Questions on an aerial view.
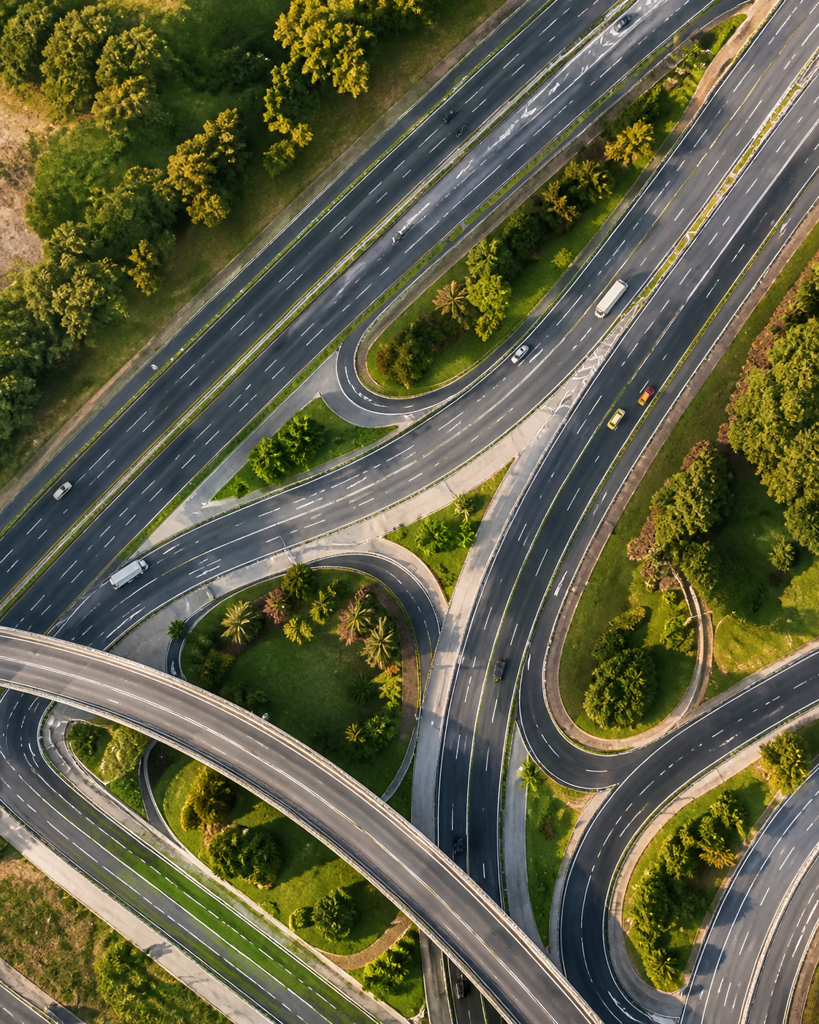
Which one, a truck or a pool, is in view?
truck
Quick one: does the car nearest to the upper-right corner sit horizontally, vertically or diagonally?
diagonally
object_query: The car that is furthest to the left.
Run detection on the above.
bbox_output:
[51,481,72,501]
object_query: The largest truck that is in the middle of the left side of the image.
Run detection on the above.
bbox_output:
[107,559,149,589]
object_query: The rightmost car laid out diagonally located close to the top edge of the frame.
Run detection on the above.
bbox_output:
[611,12,633,33]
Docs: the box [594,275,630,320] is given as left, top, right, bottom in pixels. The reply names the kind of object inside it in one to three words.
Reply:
truck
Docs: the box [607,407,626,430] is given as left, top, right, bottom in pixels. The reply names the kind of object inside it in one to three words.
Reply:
car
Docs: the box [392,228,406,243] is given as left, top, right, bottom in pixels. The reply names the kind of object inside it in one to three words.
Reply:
car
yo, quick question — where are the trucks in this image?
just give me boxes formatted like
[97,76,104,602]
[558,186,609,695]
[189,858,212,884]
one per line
[594,275,630,320]
[107,559,149,589]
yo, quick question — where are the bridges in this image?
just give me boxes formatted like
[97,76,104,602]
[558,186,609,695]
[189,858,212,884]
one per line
[0,627,605,1024]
